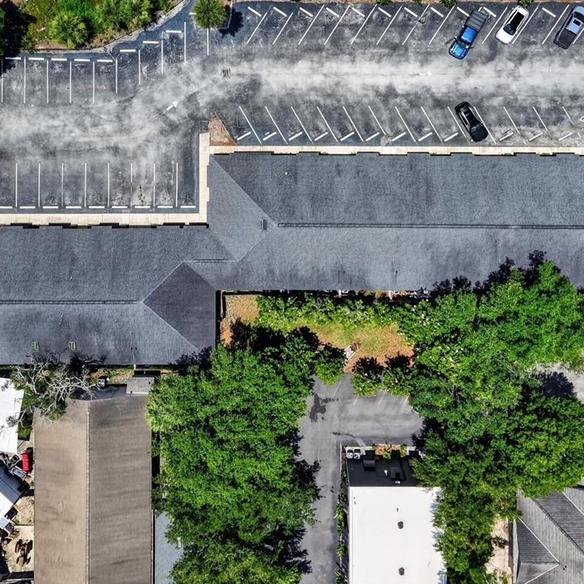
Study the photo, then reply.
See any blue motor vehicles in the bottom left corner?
No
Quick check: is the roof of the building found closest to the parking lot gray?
Yes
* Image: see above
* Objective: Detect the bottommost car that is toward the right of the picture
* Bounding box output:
[455,100,486,145]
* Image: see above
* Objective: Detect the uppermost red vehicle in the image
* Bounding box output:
[16,444,34,476]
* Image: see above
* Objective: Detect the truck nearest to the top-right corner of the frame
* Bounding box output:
[553,5,584,52]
